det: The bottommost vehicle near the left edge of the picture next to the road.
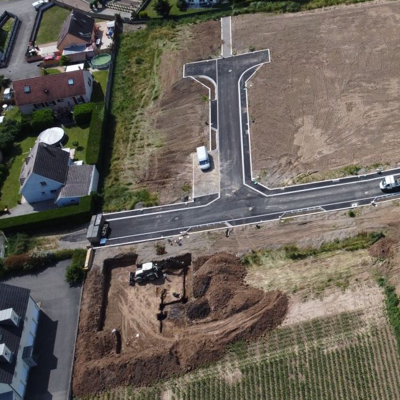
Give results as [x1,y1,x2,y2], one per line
[0,87,14,103]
